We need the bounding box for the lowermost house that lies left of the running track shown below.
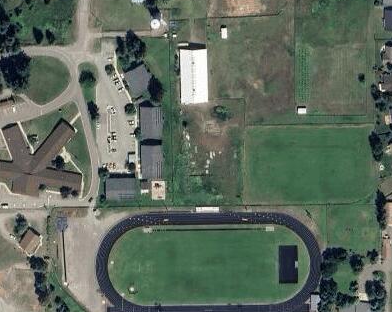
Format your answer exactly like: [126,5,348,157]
[17,228,44,254]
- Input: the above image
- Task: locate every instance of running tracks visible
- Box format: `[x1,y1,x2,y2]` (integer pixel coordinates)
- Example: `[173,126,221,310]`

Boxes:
[95,212,322,312]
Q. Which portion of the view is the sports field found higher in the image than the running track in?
right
